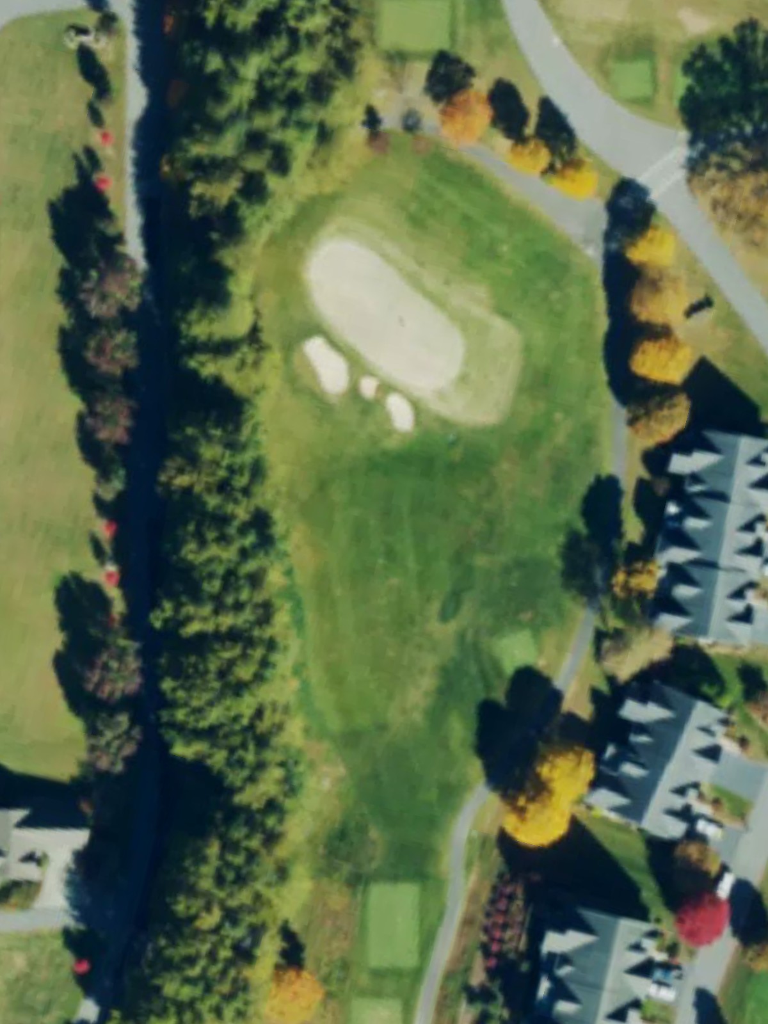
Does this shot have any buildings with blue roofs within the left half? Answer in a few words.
No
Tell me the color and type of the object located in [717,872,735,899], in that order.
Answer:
white vehicle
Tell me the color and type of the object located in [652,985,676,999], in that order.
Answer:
white car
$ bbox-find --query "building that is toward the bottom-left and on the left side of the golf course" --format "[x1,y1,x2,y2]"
[0,806,91,882]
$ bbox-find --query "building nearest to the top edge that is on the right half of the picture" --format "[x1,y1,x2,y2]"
[656,432,768,652]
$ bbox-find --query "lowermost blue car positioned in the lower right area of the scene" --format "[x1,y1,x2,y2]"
[656,970,676,982]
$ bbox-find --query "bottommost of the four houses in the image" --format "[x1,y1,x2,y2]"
[537,909,659,1024]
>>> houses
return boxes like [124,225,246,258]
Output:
[0,806,91,882]
[537,909,659,1024]
[588,684,732,844]
[656,432,768,652]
